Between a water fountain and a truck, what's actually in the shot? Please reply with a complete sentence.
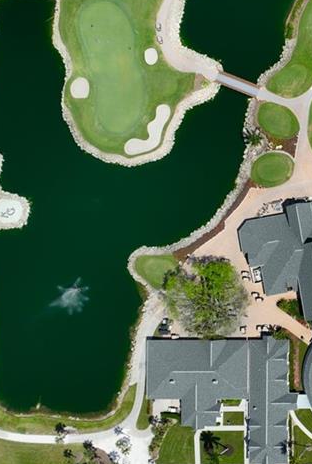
Of the two, only a water fountain appears.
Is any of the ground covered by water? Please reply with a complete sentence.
Yes, water can be seen from above here.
